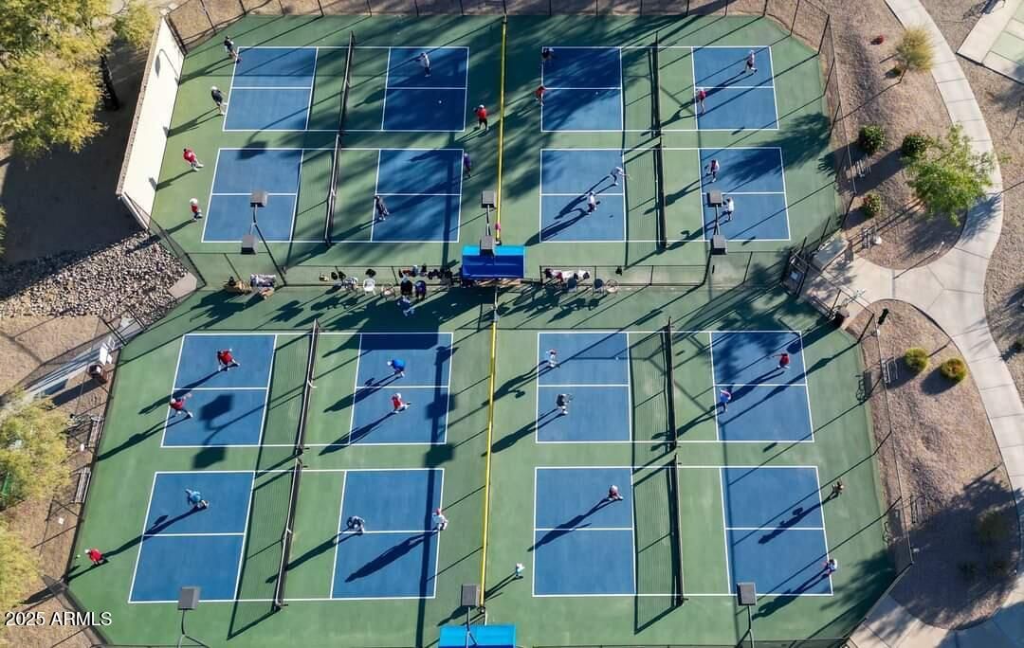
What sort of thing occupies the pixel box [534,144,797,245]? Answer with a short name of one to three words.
sports court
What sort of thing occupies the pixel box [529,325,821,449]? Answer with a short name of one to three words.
sports court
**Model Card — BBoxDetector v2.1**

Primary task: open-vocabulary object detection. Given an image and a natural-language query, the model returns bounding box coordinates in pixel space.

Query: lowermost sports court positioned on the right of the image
[526,460,838,604]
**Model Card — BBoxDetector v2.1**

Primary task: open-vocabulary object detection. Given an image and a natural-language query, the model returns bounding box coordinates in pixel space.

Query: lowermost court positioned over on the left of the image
[123,463,450,609]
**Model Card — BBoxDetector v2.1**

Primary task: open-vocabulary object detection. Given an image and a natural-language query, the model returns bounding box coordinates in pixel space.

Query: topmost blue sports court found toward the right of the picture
[536,44,784,134]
